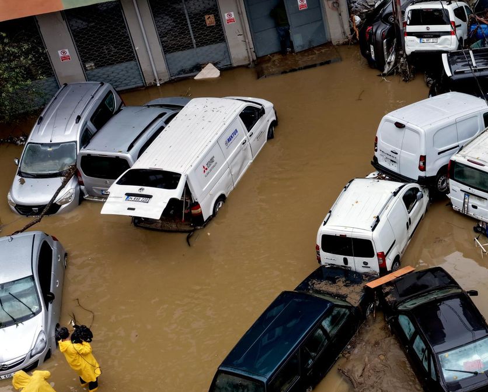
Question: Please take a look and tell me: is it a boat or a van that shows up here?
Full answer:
Looking from above, you can make out a van.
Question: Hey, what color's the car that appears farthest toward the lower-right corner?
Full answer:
The car that appears farthest toward the lower-right corner looks black in the image.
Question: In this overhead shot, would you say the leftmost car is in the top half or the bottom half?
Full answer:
The leftmost car sits in the bottom half of the picture.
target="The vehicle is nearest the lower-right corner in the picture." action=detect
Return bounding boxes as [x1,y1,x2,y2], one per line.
[379,265,488,392]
